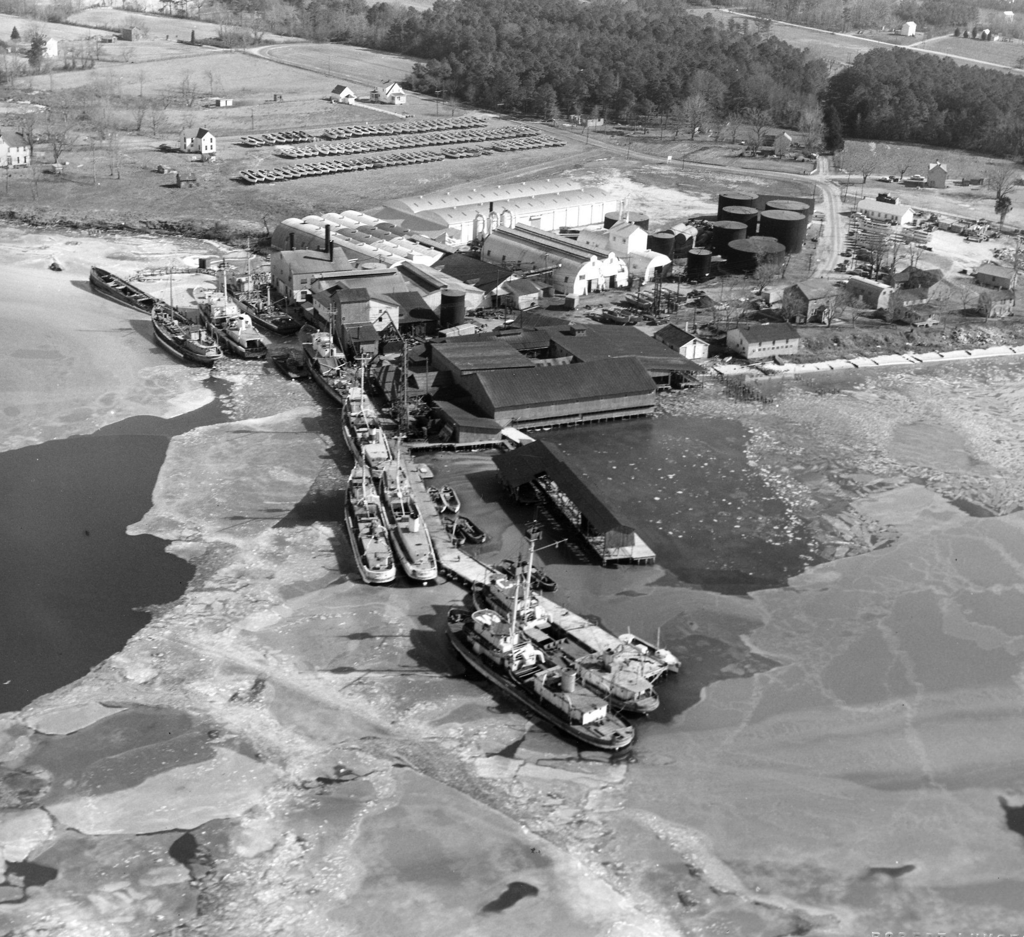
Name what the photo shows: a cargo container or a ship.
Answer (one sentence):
This aerial view contains a ship.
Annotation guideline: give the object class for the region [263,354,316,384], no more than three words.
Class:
ship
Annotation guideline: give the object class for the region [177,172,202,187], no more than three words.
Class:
shed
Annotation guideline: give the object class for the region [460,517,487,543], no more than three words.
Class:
boat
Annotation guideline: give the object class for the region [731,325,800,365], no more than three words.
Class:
house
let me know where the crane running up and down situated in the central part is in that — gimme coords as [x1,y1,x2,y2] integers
[366,312,440,435]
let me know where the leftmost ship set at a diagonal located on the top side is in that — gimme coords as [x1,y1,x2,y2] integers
[90,266,170,322]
